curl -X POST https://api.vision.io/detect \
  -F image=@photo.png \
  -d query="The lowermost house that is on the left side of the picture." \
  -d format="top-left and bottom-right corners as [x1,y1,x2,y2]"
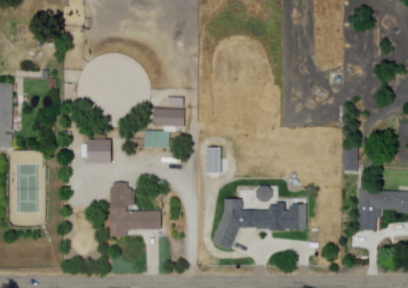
[109,180,160,238]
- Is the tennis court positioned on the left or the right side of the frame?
left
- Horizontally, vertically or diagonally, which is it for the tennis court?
vertically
